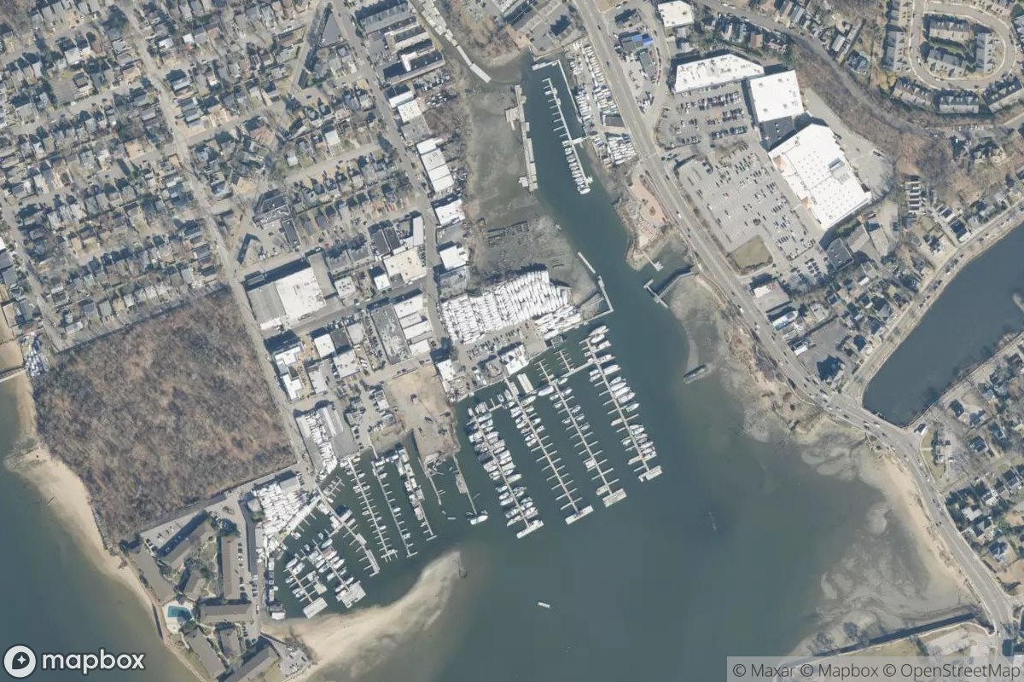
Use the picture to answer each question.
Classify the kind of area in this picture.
residential area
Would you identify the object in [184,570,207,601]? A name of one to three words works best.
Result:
building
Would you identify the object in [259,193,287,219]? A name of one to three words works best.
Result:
building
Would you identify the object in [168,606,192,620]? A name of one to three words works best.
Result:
swimming pool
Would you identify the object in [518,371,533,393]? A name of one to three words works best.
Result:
ship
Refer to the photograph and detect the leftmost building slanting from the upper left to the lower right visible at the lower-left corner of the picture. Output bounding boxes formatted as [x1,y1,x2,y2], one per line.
[132,545,176,605]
